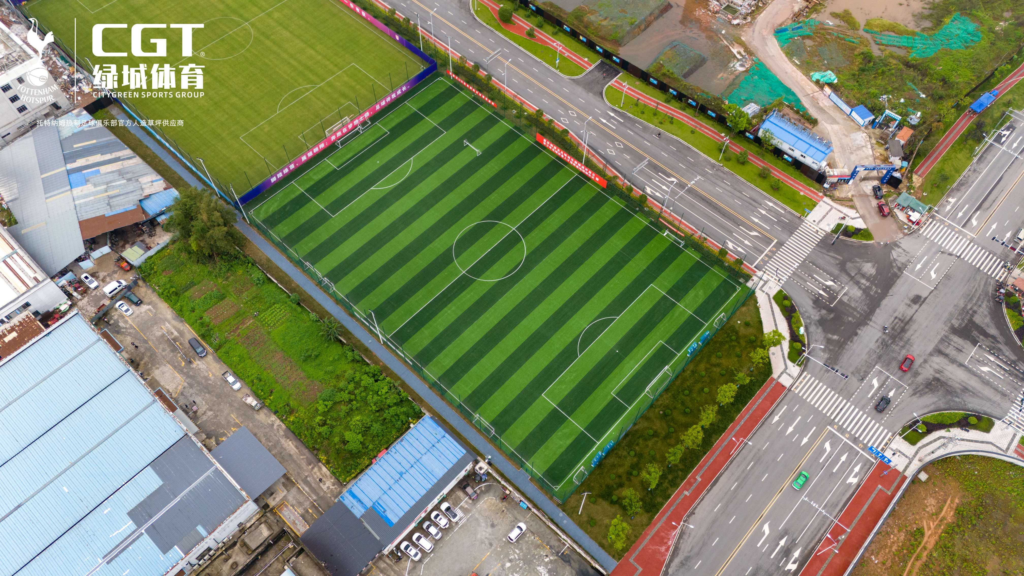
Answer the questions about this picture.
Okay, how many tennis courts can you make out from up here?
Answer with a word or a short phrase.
0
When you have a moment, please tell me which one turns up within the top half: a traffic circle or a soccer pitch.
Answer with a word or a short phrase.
soccer pitch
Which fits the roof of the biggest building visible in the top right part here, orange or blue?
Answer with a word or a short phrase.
blue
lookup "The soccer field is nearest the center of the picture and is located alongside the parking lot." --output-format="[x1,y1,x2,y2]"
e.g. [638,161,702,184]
[237,67,754,502]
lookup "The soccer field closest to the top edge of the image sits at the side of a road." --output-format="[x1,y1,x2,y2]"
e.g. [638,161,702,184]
[17,0,430,204]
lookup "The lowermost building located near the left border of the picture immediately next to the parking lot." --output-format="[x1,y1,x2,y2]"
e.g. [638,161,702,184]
[0,308,255,576]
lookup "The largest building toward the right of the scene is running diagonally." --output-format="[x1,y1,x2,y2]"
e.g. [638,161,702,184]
[758,110,833,169]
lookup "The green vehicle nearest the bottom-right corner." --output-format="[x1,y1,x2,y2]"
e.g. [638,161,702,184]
[792,471,809,492]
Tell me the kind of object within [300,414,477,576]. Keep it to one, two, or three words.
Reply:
building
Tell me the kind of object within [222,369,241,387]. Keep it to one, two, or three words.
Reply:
vehicle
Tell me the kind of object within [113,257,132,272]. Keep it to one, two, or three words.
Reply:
vehicle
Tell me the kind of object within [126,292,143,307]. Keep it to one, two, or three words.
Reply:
car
